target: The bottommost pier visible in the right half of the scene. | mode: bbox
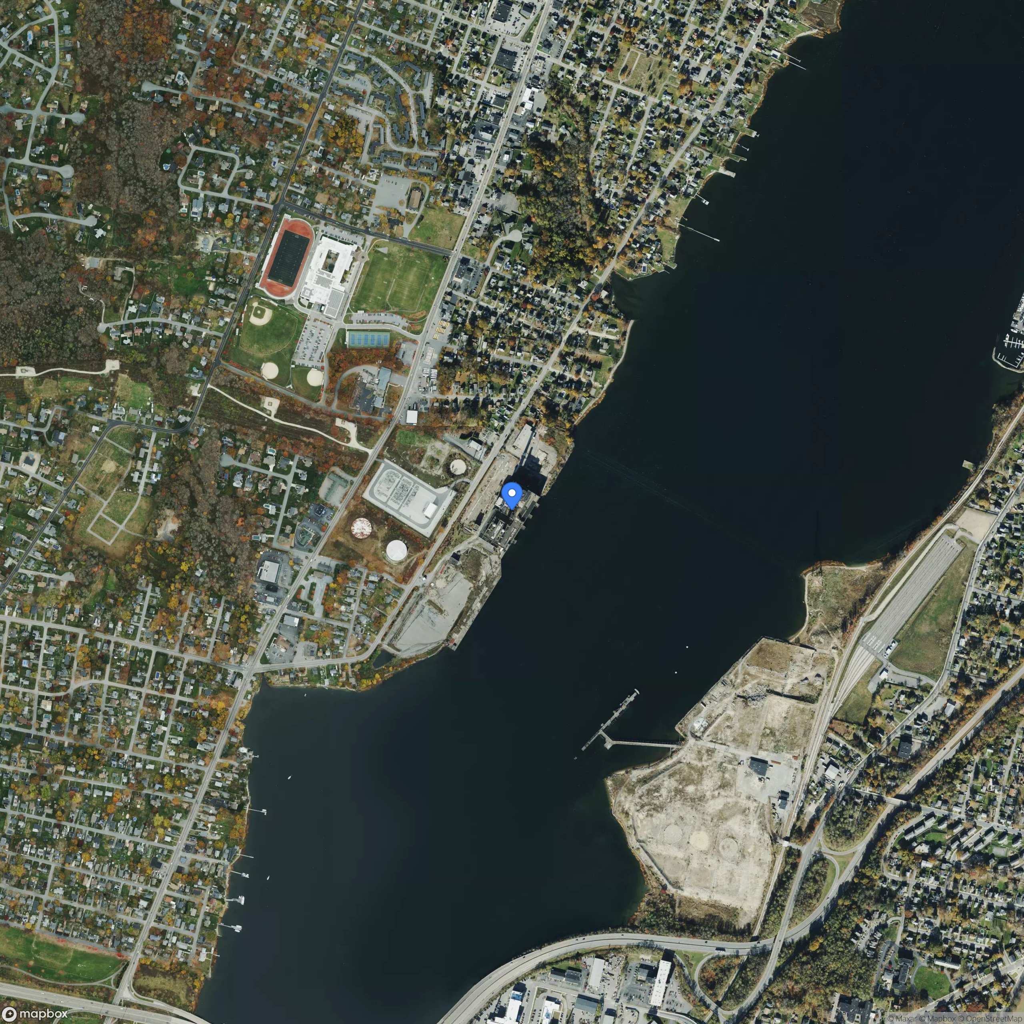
[582,693,681,750]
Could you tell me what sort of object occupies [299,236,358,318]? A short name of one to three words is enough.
building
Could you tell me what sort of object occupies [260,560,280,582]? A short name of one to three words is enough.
building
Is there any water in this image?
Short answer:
Yes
